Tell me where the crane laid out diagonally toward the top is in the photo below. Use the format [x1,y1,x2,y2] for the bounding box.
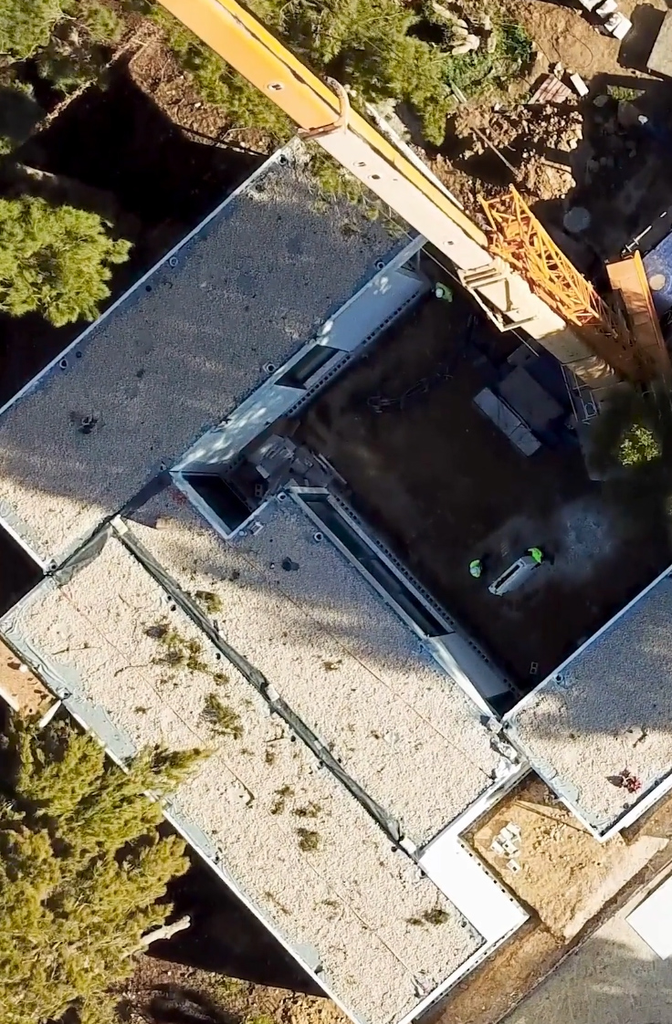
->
[155,0,672,523]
